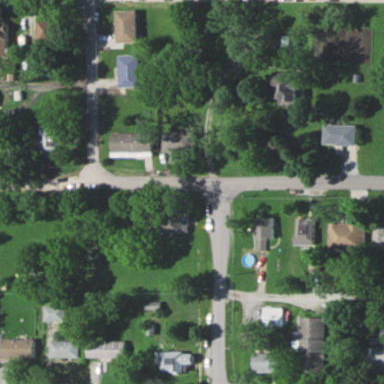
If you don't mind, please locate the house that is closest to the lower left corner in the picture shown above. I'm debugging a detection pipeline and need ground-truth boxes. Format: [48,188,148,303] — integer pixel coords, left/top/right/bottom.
[0,339,34,358]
